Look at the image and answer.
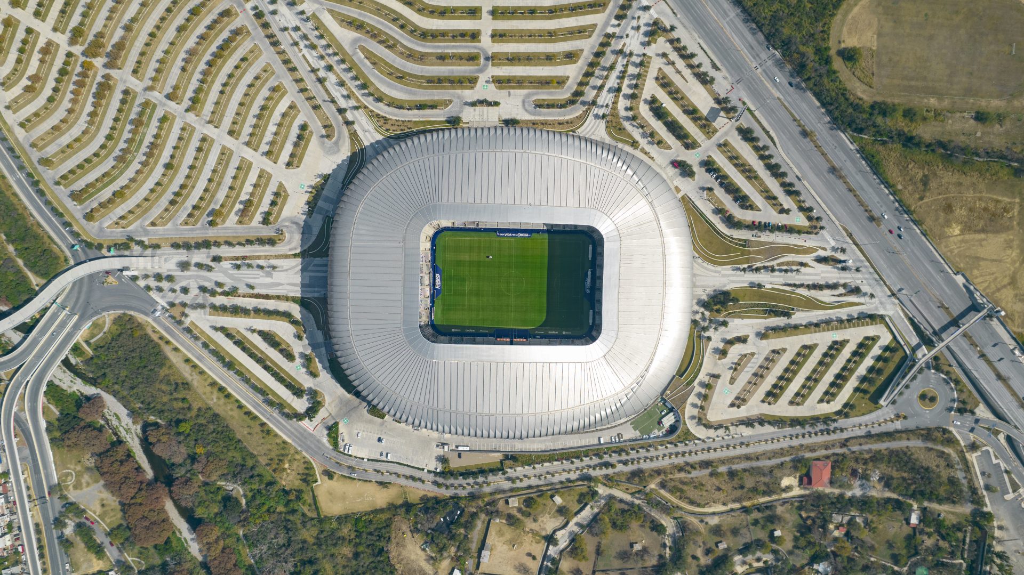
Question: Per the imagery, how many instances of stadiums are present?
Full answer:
Altogether the scene contains 1 stadium.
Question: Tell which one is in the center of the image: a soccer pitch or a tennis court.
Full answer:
Looking in the center of the image, you will find a soccer pitch.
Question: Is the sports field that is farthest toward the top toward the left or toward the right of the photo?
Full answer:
It is on the right.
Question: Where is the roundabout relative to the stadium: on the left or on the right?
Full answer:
To the right of the stadium is where the roundabout appears.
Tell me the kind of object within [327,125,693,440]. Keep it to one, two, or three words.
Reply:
stadium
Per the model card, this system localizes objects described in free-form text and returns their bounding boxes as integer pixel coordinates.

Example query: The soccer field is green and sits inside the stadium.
[430,227,596,338]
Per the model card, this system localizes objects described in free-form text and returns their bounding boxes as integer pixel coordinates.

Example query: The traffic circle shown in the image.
[903,373,956,424]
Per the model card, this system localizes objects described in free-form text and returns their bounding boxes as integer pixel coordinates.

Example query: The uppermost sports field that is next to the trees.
[830,0,1024,108]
